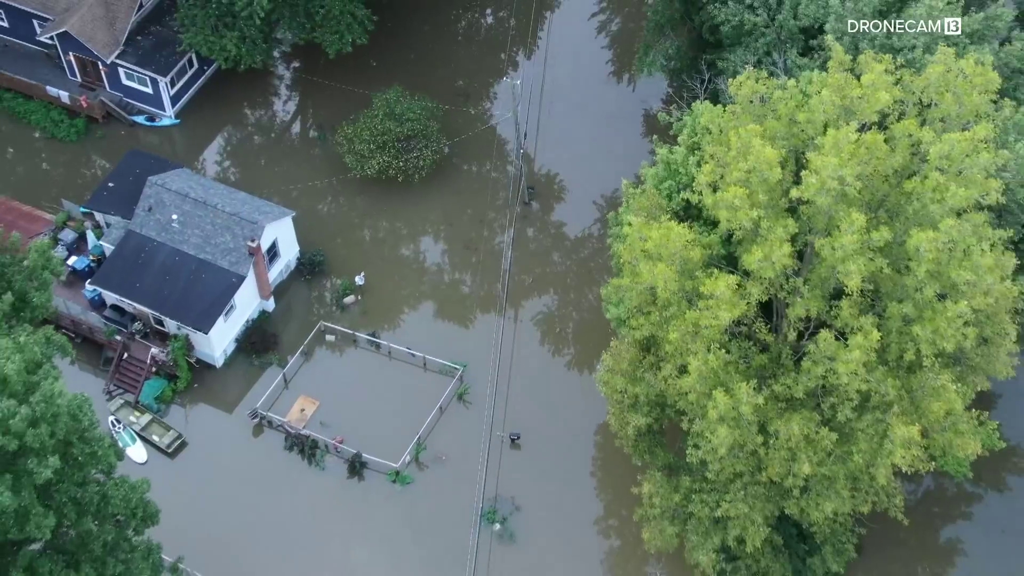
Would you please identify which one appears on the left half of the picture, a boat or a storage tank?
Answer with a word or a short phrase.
boat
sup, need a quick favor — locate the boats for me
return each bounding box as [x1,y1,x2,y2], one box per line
[106,391,189,458]
[129,114,180,125]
